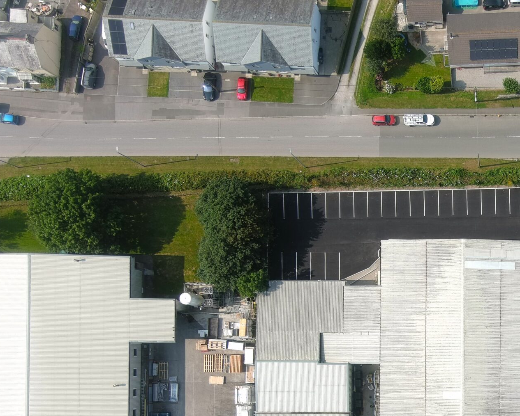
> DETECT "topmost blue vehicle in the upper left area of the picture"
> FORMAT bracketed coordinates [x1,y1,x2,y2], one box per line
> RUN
[68,14,84,42]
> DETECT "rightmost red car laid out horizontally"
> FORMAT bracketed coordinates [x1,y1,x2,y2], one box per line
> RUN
[371,115,398,127]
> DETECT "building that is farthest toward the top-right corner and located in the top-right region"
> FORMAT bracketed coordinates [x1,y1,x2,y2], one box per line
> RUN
[446,11,520,68]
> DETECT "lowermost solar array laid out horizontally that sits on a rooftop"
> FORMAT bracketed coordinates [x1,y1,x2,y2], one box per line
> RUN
[470,38,518,61]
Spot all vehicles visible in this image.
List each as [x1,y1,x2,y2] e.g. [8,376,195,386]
[202,74,216,102]
[371,115,398,127]
[82,63,98,89]
[0,112,21,125]
[235,79,249,101]
[404,113,435,126]
[99,22,108,51]
[508,0,520,8]
[68,14,84,42]
[483,0,507,11]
